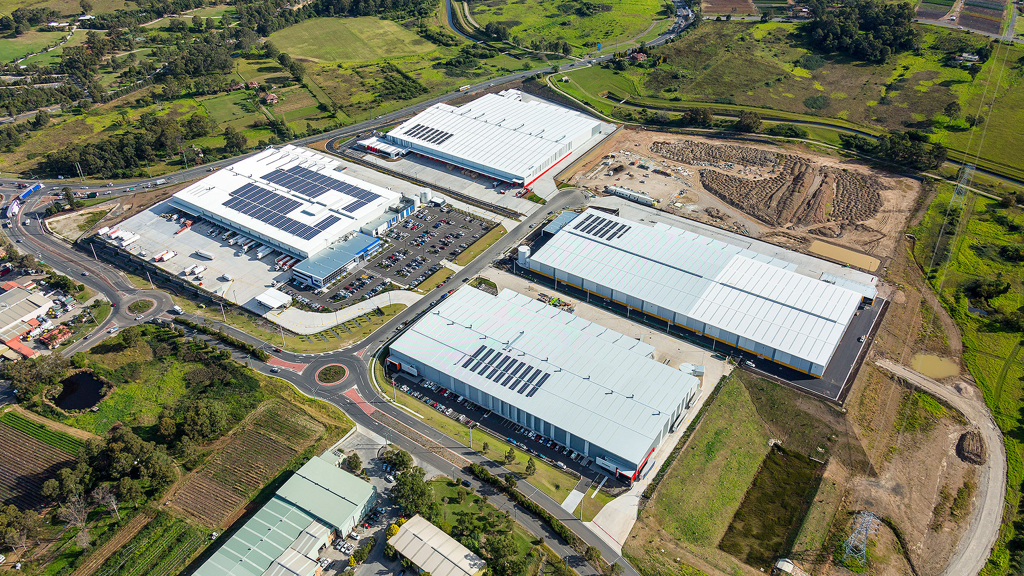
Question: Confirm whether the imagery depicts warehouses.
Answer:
Yes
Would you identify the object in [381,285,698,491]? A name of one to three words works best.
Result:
warehouse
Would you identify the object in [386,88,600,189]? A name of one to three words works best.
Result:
building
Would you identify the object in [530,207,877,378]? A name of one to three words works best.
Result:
warehouse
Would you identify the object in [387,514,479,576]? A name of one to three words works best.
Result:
building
